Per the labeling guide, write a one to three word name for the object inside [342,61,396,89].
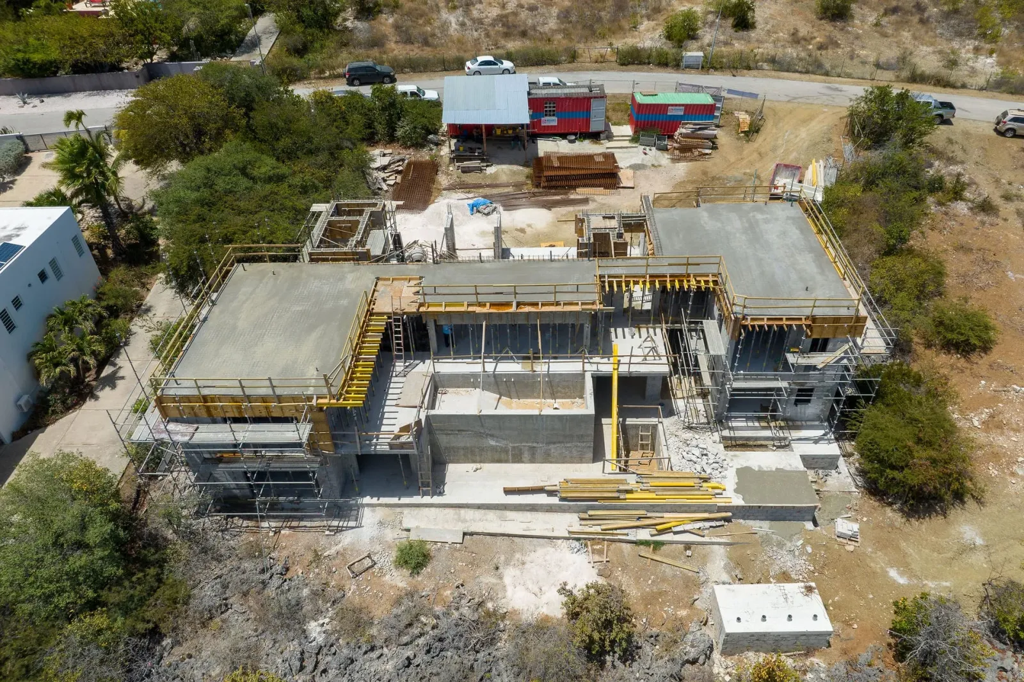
car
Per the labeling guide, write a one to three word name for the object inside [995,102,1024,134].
car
